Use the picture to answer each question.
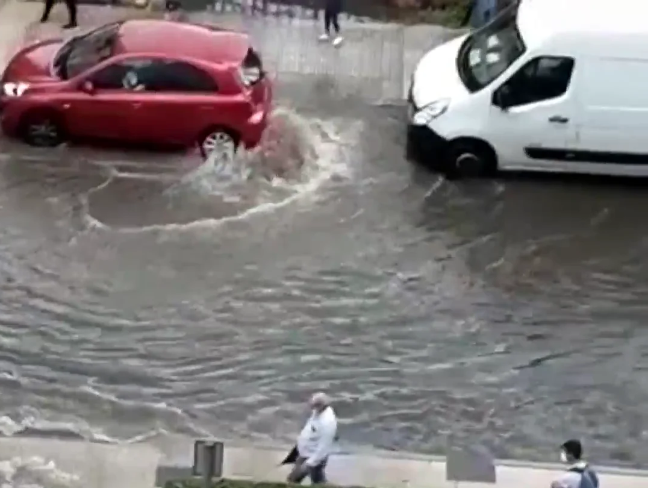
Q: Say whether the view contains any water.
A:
Yes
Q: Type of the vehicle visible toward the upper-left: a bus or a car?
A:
car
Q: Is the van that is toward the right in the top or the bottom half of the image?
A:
top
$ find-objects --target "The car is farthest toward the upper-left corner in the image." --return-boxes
[2,25,268,162]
